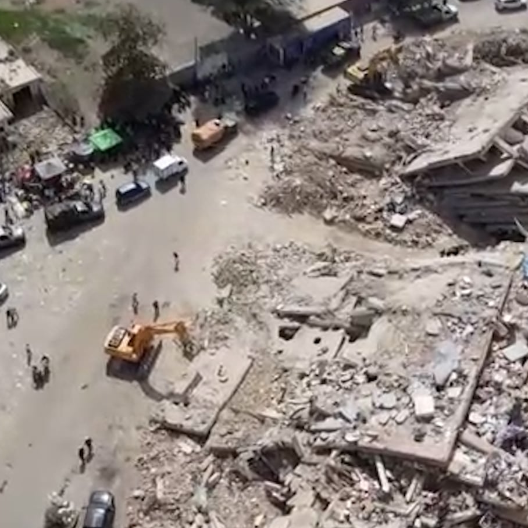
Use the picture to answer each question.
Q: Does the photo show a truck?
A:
Yes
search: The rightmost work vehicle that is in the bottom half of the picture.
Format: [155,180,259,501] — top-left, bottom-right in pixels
[101,336,192,379]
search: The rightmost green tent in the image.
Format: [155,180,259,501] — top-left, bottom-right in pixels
[88,129,124,166]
